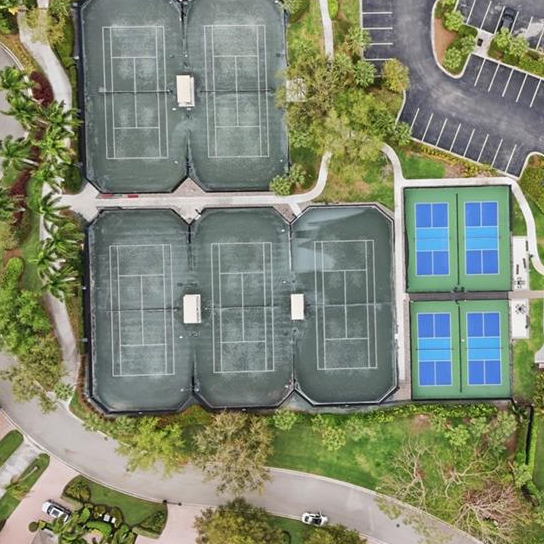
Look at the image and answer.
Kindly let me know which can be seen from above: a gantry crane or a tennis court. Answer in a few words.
tennis court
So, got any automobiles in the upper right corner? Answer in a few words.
Yes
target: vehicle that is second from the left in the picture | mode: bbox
[301,511,328,526]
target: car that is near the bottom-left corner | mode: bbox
[42,499,71,521]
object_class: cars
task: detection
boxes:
[42,499,71,521]
[301,511,328,526]
[497,6,513,33]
